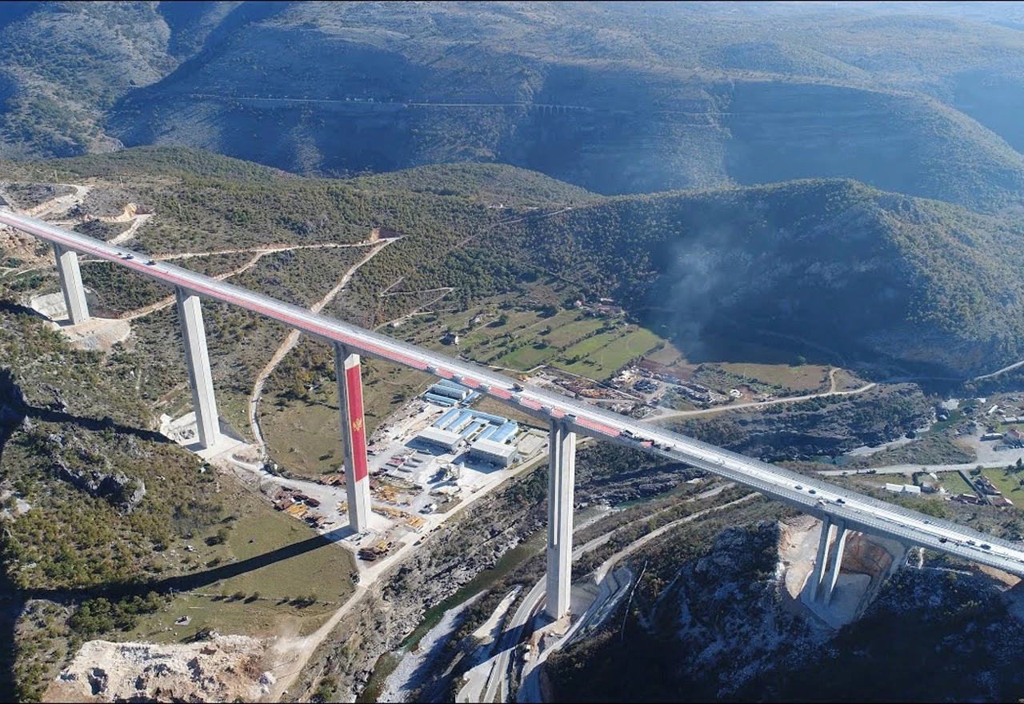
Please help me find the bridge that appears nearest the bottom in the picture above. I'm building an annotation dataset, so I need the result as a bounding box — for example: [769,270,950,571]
[0,203,1024,621]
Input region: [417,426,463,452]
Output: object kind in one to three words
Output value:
shed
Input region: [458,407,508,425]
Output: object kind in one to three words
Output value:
building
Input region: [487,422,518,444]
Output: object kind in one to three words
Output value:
building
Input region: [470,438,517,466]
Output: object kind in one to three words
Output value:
shed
